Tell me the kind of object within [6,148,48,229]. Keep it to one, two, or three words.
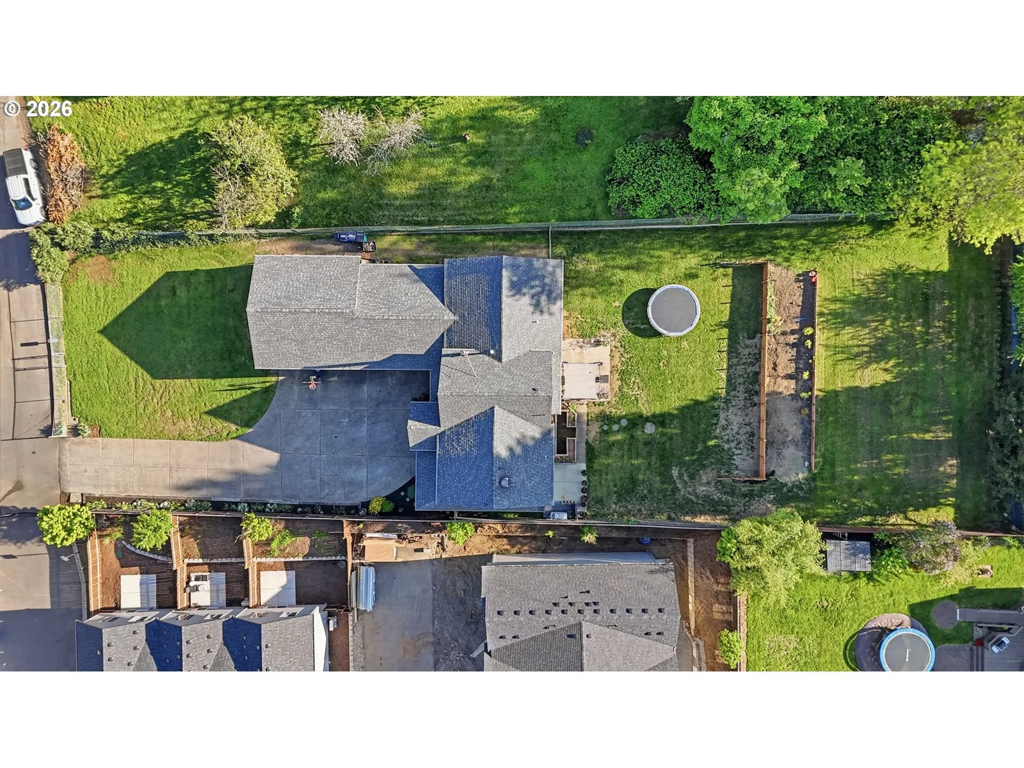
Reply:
truck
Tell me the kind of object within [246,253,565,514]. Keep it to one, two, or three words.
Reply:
house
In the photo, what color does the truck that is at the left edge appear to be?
white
